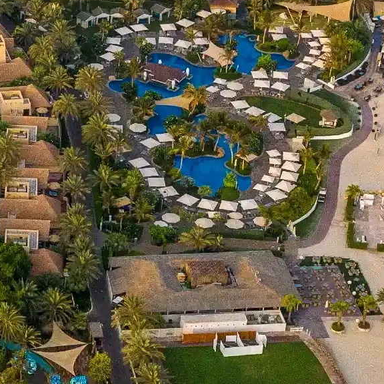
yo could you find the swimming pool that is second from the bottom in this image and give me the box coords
[145,107,207,133]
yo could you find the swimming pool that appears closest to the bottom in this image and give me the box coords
[173,132,252,197]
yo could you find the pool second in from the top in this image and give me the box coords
[109,54,217,98]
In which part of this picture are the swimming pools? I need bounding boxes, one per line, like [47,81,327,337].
[218,30,294,75]
[173,132,252,197]
[109,54,217,98]
[145,107,207,133]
